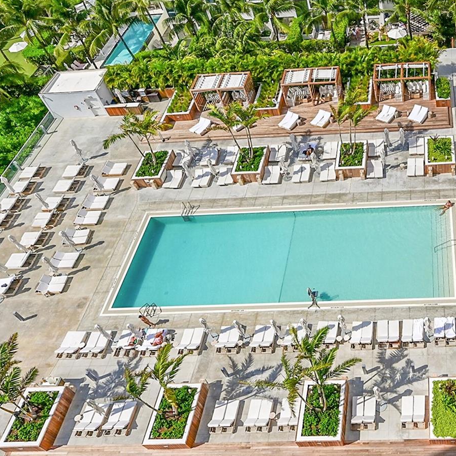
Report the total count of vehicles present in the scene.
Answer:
0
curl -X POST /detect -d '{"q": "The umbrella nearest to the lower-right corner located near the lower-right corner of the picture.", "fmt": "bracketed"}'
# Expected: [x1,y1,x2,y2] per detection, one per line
[373,384,388,411]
